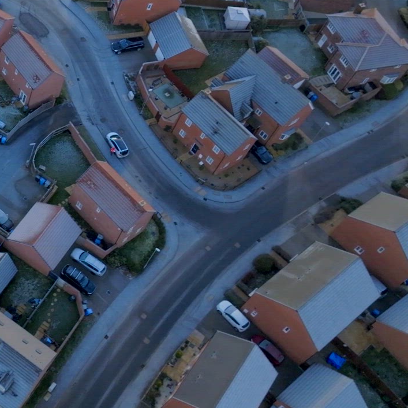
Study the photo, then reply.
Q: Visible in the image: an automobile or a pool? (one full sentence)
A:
The image shows an automobile.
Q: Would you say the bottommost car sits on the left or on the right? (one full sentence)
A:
The bottommost car sits on the right side.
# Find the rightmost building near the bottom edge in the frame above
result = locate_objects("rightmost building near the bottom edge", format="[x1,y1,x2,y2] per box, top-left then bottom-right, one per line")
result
[353,297,408,394]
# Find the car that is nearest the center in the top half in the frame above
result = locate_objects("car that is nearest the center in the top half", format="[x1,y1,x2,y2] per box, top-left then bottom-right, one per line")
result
[253,143,276,167]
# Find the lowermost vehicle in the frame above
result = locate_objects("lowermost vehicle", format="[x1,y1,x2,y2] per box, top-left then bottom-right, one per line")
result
[247,331,290,370]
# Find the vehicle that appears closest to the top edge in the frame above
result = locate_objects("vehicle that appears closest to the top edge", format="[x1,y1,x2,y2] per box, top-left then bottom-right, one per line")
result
[113,37,144,52]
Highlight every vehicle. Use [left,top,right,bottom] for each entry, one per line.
[105,131,131,159]
[113,37,144,52]
[0,208,15,231]
[70,248,109,277]
[60,263,98,295]
[215,301,252,333]
[247,331,290,370]
[253,143,276,167]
